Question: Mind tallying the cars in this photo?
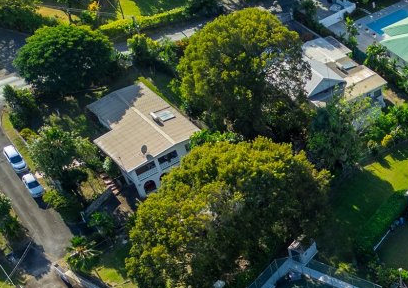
2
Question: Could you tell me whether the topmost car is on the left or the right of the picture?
left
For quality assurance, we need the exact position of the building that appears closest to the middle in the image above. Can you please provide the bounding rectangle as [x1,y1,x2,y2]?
[88,84,202,192]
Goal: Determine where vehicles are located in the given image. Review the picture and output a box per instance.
[20,174,44,196]
[4,146,27,169]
